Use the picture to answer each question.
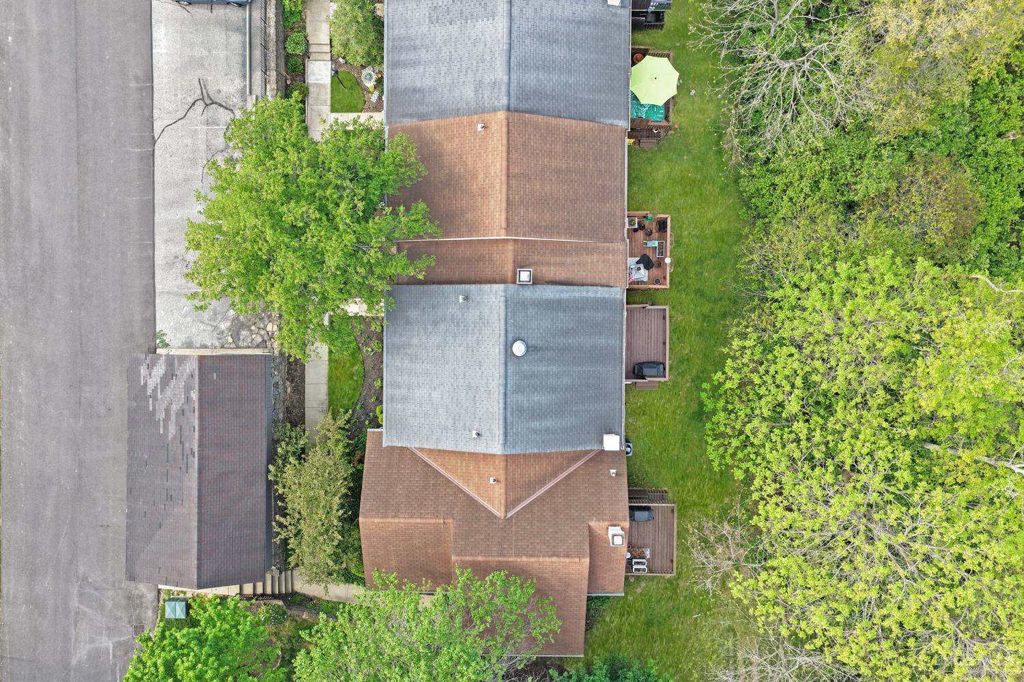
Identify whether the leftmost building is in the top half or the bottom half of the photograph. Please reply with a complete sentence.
The leftmost building is in the bottom half of the image.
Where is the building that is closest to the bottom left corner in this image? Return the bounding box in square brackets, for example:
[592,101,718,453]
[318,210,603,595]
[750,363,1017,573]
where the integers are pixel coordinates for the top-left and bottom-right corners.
[126,354,272,590]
